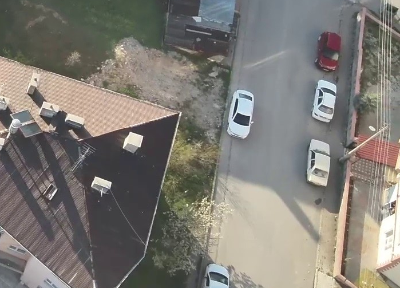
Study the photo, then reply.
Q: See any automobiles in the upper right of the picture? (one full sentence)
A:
Yes, an automobile is visible in the upper right of the picture.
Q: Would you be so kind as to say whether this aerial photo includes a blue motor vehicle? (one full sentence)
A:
No, I find no blue motor vehicle anywhere in the image.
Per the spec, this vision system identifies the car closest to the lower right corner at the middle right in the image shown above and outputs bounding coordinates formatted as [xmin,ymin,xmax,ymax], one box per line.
[302,138,335,190]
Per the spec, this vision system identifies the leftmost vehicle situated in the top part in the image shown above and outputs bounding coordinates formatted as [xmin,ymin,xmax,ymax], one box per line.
[226,89,255,140]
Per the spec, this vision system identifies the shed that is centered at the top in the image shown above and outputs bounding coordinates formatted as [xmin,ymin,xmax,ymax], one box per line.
[160,0,235,59]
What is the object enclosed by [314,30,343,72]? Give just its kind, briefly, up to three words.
car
